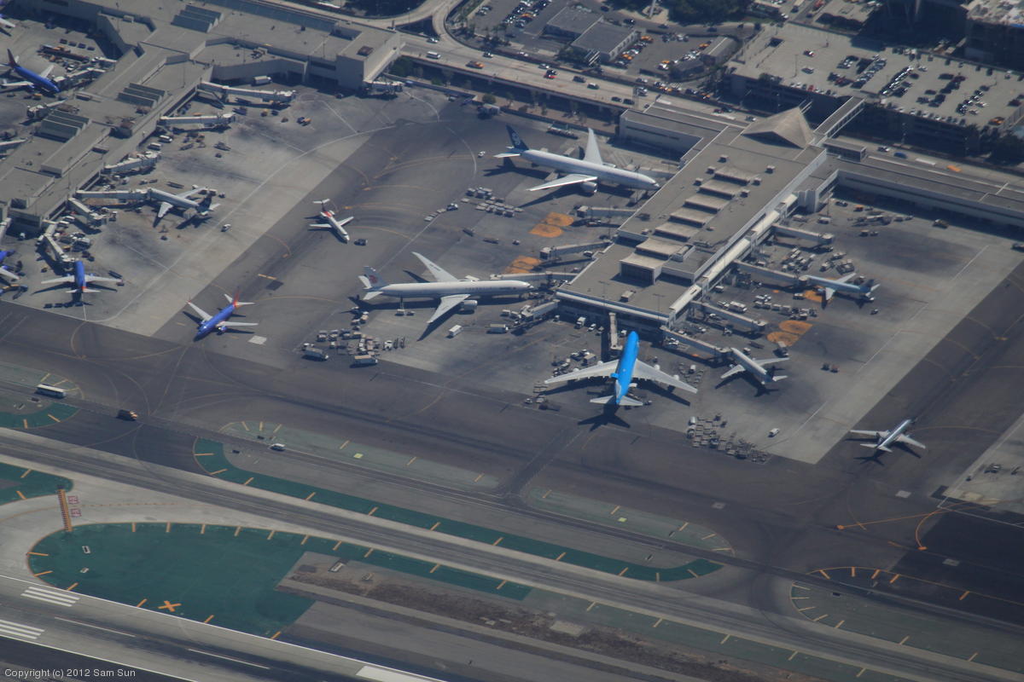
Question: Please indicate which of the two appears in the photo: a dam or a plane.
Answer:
plane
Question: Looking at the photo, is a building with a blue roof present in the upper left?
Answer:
No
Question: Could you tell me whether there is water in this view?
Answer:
No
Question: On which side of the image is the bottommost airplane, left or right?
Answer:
right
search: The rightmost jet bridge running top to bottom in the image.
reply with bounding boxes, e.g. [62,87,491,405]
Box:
[607,312,621,361]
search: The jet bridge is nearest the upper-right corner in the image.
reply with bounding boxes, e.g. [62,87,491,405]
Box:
[772,225,833,247]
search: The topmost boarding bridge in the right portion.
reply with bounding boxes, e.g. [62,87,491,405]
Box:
[633,166,679,180]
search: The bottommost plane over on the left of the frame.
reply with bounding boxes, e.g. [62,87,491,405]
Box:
[188,292,260,342]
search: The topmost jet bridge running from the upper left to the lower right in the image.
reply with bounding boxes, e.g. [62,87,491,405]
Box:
[66,196,104,226]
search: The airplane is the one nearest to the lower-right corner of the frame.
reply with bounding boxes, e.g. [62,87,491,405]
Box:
[852,418,928,453]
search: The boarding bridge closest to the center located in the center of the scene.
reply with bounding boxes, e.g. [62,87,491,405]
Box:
[516,299,562,328]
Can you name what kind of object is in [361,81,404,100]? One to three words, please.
jet bridge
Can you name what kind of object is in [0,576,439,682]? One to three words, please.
runway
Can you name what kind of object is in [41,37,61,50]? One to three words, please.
vehicle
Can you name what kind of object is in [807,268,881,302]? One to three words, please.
airplane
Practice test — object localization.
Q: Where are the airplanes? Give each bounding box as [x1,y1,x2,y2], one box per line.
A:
[188,292,260,342]
[0,48,59,94]
[807,268,881,302]
[852,418,928,453]
[309,202,352,243]
[152,187,217,216]
[41,260,123,293]
[360,252,535,322]
[544,333,699,410]
[491,128,659,195]
[718,348,791,384]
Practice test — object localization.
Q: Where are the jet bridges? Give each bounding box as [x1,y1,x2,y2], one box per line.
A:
[633,166,679,180]
[199,80,297,107]
[103,151,165,180]
[66,196,104,226]
[50,67,101,92]
[607,312,621,361]
[24,97,67,122]
[772,225,833,247]
[40,217,72,271]
[734,261,807,289]
[361,81,404,100]
[516,299,562,328]
[574,207,640,226]
[88,55,111,68]
[692,302,766,333]
[0,218,13,252]
[656,324,731,361]
[73,187,155,205]
[495,271,581,287]
[538,240,614,267]
[159,113,240,131]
